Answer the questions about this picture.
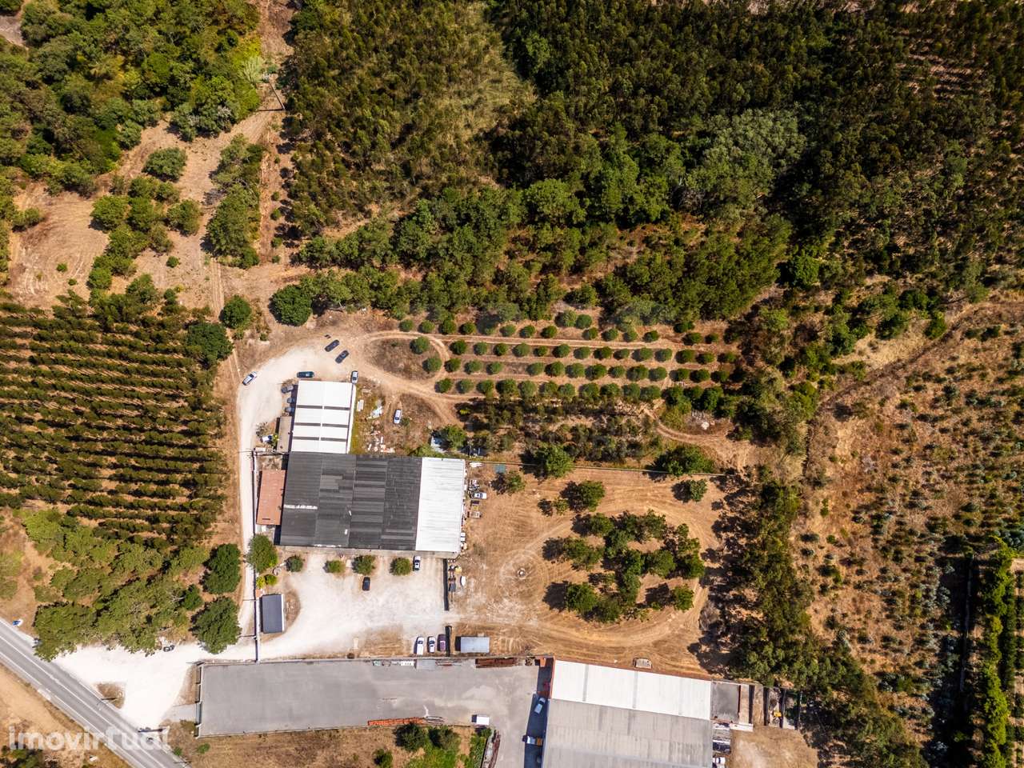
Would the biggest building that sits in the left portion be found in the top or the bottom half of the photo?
bottom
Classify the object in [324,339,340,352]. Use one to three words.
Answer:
vehicle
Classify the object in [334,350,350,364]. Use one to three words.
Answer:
car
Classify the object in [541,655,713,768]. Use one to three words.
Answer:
shed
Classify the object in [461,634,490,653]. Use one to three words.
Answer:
shed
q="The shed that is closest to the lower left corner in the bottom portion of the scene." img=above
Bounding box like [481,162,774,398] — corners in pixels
[262,591,286,633]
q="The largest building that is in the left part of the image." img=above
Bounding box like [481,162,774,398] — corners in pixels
[280,452,466,553]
